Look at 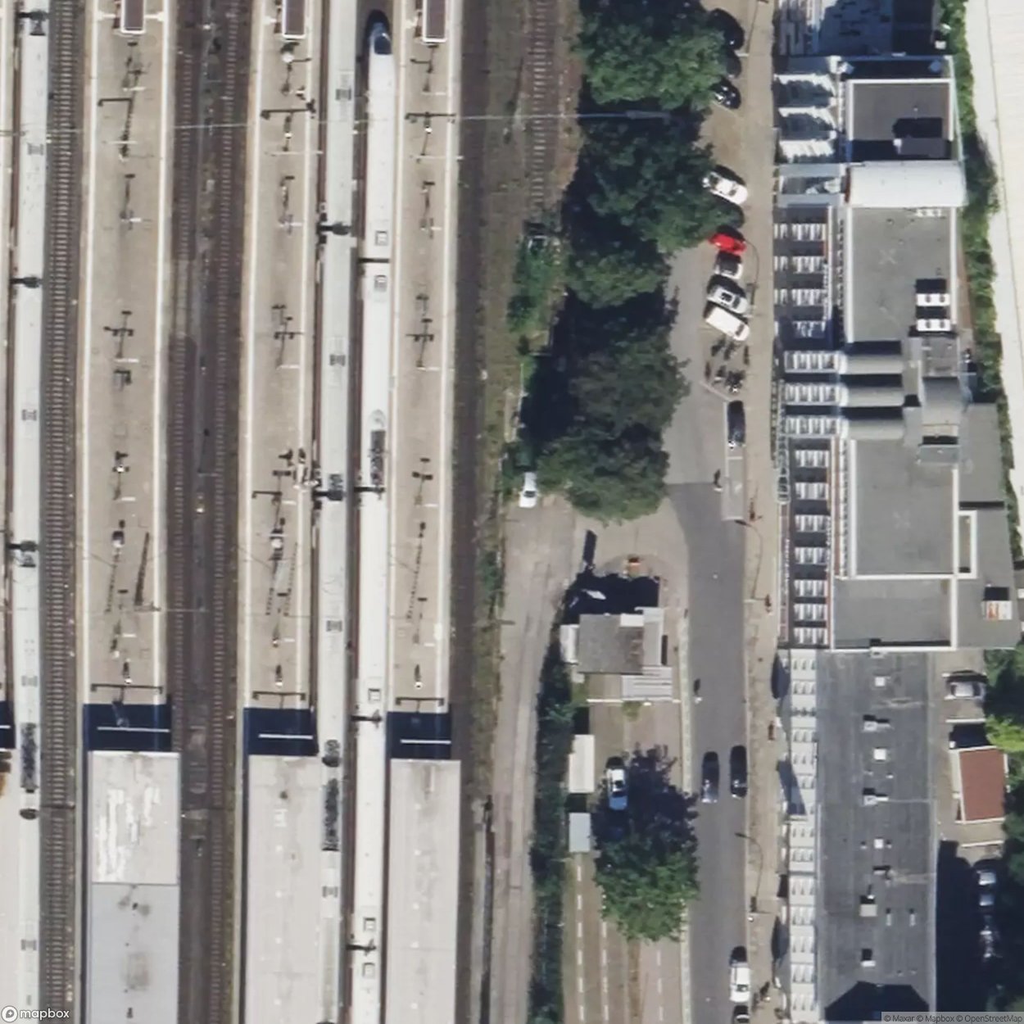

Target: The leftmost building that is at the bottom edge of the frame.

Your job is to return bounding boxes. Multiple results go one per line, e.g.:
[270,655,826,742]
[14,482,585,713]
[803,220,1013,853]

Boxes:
[781,650,937,1024]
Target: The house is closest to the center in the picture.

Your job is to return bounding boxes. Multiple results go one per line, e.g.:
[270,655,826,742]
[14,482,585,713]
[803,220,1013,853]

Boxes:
[554,608,667,679]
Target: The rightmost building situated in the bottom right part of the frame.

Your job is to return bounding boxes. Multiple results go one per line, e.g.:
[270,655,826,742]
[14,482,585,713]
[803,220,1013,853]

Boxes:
[945,744,1007,824]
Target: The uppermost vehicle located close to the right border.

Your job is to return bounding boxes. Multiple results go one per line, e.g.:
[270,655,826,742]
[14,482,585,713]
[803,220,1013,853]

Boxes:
[945,678,984,698]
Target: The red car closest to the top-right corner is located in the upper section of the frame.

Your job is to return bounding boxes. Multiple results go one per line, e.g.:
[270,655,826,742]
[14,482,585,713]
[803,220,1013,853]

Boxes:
[708,228,746,255]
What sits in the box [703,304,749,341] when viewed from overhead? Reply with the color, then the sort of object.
white vehicle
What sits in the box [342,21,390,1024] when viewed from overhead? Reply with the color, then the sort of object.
white train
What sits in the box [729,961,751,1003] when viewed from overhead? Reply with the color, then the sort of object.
white car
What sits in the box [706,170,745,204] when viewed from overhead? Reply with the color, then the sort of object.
white car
